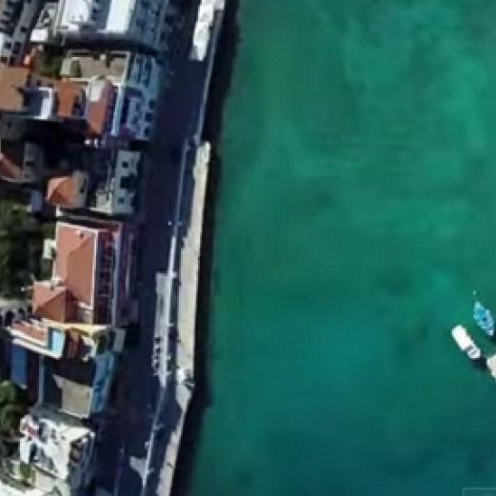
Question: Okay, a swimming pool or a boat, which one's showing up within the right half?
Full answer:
The feature located within the right half is a boat.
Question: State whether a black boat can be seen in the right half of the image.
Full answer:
No, there's no black boat to be seen in the right half of the image.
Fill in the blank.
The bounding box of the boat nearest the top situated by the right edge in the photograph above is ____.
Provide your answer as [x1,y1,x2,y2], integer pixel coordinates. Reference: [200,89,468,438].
[474,302,493,337]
